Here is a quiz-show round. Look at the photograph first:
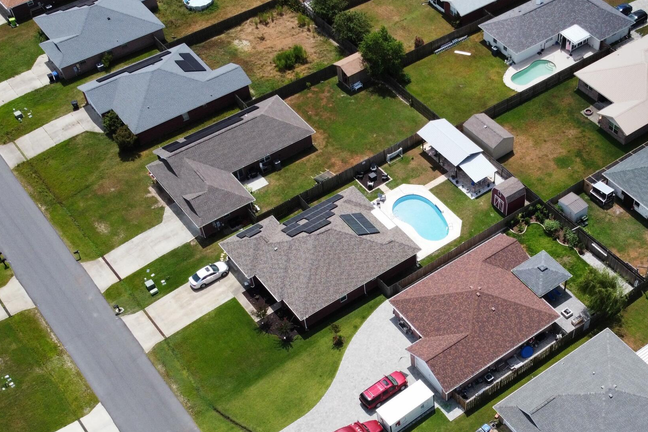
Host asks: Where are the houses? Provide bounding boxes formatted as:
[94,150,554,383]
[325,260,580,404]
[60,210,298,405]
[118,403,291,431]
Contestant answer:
[218,185,419,330]
[478,0,635,66]
[147,94,316,239]
[493,327,648,432]
[387,232,561,402]
[33,0,165,82]
[603,146,648,222]
[428,0,519,29]
[78,42,252,147]
[574,34,648,147]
